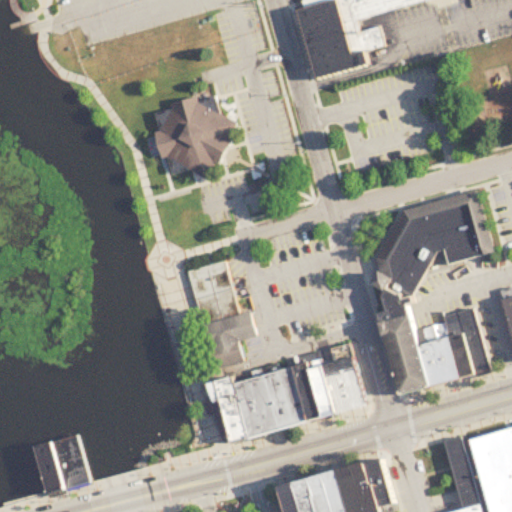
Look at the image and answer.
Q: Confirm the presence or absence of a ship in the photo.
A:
No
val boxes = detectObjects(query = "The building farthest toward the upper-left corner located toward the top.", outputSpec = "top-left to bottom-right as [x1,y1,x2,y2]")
[154,93,236,166]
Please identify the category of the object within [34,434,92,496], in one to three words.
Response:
building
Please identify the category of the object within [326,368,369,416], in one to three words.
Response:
building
